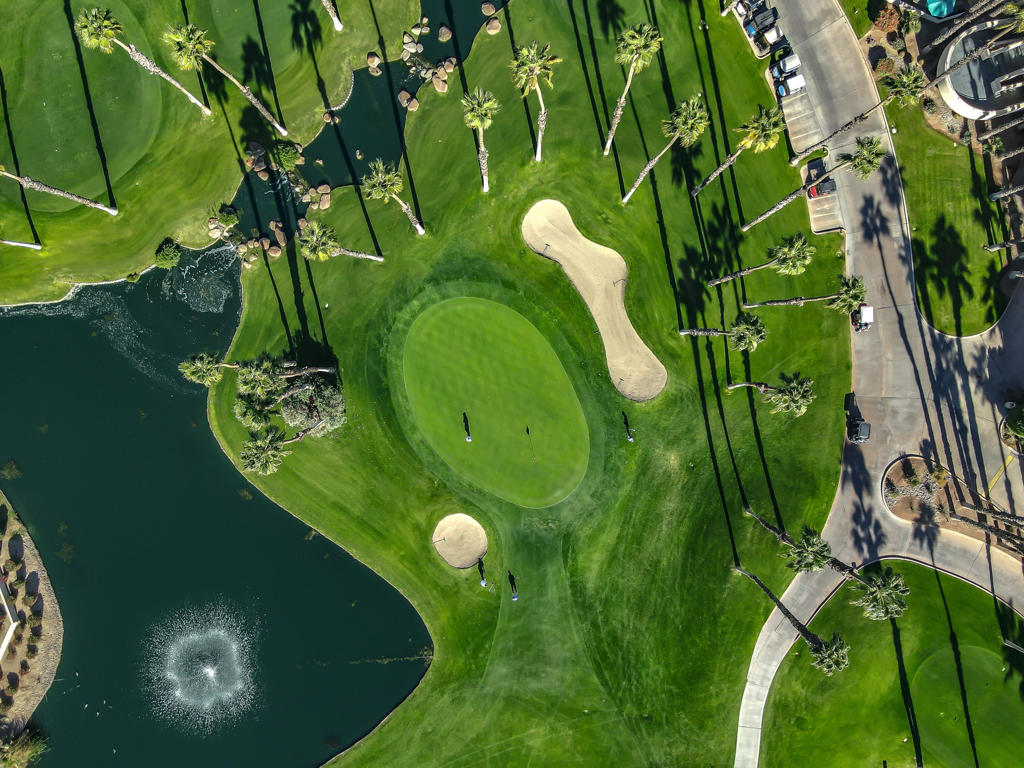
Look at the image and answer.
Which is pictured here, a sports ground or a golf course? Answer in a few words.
golf course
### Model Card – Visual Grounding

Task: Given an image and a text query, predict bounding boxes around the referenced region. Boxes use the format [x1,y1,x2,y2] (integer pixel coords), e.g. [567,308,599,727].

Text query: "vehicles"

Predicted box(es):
[753,26,783,52]
[769,57,800,82]
[732,0,760,16]
[849,416,872,441]
[851,304,873,326]
[806,181,835,201]
[743,12,773,39]
[775,76,805,101]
